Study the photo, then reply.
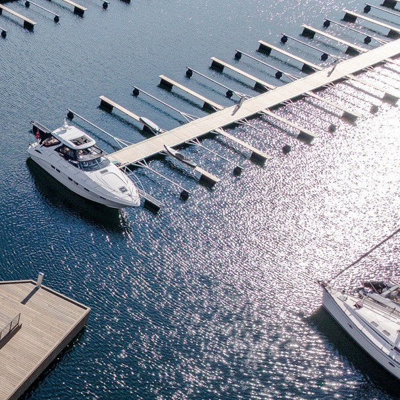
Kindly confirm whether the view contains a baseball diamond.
No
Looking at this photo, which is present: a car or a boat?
boat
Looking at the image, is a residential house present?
No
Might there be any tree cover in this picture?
No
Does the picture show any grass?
No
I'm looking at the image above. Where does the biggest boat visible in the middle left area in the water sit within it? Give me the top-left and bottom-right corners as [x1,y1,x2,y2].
[21,121,145,205]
